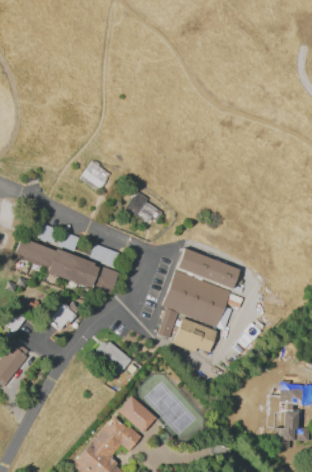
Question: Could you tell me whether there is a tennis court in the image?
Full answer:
Yes, the image includes a tennis court.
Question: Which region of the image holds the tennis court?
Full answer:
The tennis court is in the bottom part of the image.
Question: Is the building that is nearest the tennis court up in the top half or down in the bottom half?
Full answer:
The bottom half of the photo is where the building that is nearest the tennis court is.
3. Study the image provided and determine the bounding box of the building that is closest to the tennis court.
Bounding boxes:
[119,396,157,432]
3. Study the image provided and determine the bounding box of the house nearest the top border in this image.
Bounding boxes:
[80,160,110,192]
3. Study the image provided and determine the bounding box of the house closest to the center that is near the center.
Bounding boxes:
[126,192,163,224]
